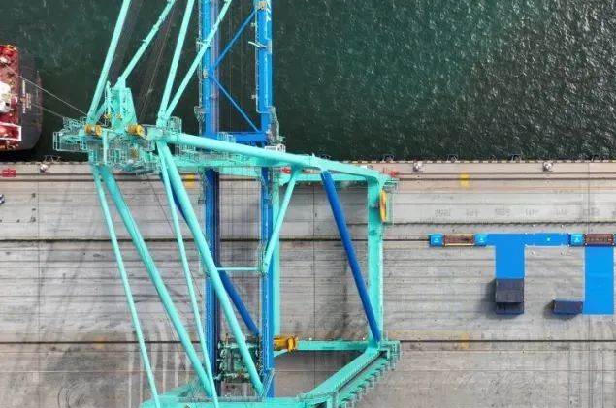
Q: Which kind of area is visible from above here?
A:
port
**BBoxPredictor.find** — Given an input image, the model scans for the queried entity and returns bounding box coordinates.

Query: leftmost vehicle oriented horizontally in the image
[430,233,486,245]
